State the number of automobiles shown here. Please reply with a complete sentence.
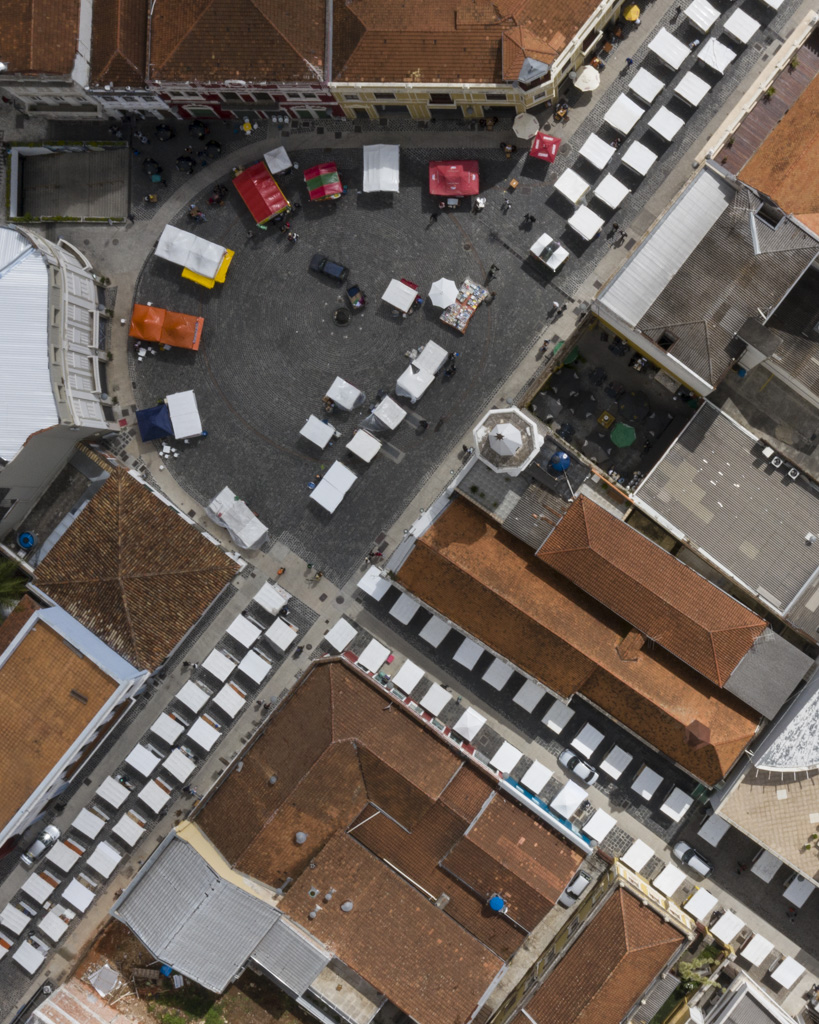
The count of automobiles comes to 5.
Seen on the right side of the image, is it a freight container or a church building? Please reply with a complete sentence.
The one visible on the right side of the image is a church building.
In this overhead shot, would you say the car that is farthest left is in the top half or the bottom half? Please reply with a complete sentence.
It is in the bottom half that the car that is farthest left appears.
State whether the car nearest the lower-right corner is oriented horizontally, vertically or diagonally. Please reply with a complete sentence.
Seen from above, the car nearest the lower-right corner lies diagonally.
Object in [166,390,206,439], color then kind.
white tent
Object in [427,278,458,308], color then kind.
white umbrella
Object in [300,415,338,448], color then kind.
white tent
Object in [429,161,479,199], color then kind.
red tent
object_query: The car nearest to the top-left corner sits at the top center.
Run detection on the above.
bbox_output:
[308,255,349,283]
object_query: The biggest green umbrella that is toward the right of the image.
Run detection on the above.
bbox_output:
[611,423,635,447]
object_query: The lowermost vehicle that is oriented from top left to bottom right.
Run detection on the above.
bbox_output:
[668,837,715,877]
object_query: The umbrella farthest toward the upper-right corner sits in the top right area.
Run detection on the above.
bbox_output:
[624,5,641,25]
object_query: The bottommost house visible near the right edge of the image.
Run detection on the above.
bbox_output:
[679,957,801,1024]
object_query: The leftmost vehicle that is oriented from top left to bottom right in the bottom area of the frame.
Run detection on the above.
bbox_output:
[554,745,602,786]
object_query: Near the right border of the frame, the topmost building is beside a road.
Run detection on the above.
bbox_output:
[680,2,819,241]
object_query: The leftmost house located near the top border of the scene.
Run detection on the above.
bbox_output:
[0,0,118,121]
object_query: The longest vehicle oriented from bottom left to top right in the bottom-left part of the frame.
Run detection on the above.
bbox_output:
[20,821,65,869]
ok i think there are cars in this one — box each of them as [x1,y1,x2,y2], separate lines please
[308,255,349,283]
[558,864,595,907]
[668,837,715,877]
[554,745,602,786]
[20,821,65,869]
